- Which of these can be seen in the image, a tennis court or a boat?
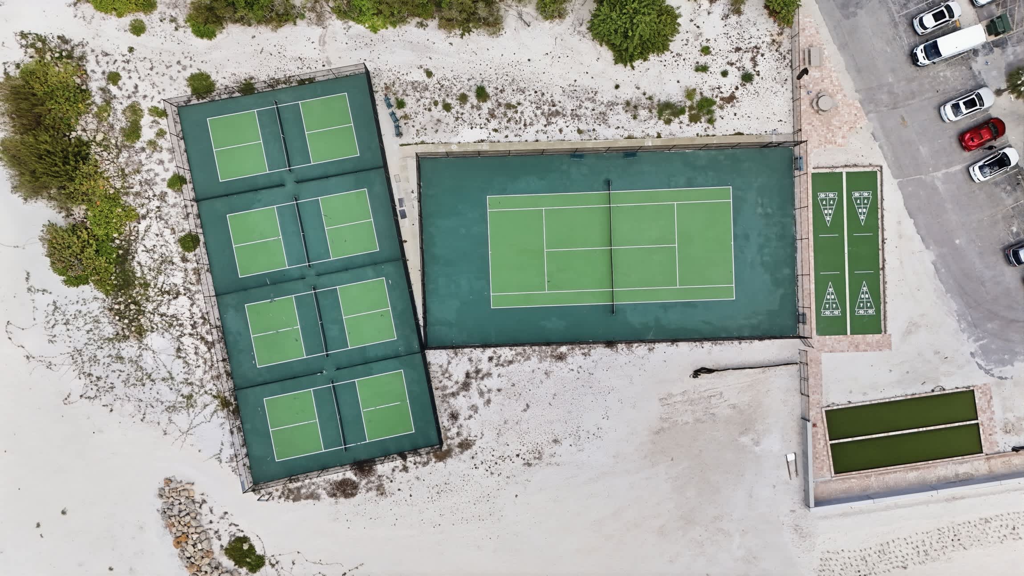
tennis court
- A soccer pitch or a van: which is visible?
van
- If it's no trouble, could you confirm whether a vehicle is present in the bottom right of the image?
No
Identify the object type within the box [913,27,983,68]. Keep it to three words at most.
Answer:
van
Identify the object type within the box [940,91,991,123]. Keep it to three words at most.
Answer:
car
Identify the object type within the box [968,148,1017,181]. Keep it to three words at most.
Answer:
car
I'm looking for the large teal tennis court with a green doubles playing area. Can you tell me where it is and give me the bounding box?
[419,147,799,346]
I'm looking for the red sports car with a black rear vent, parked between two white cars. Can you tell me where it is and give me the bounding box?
[958,118,1006,151]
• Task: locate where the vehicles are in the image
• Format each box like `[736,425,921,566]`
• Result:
[913,2,961,34]
[970,0,990,6]
[958,118,1006,151]
[968,148,1017,181]
[940,91,991,123]
[913,27,983,68]
[1006,244,1024,266]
